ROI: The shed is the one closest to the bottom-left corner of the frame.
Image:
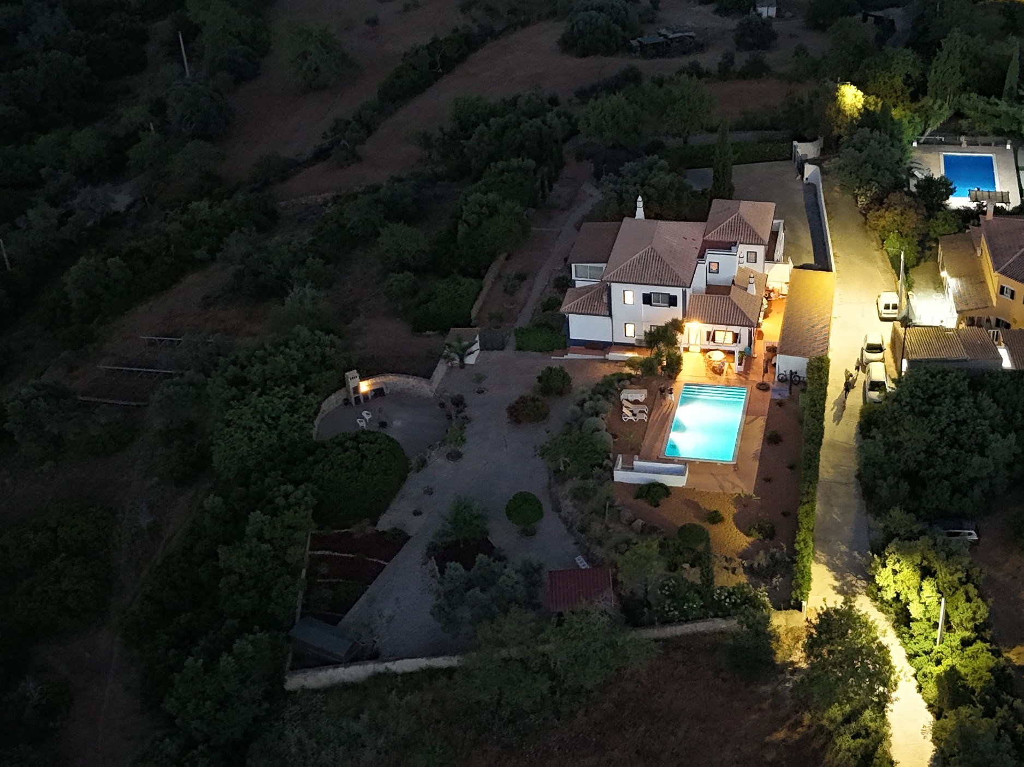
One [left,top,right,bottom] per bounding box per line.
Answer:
[290,618,366,669]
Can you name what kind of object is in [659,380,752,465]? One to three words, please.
swimming pool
